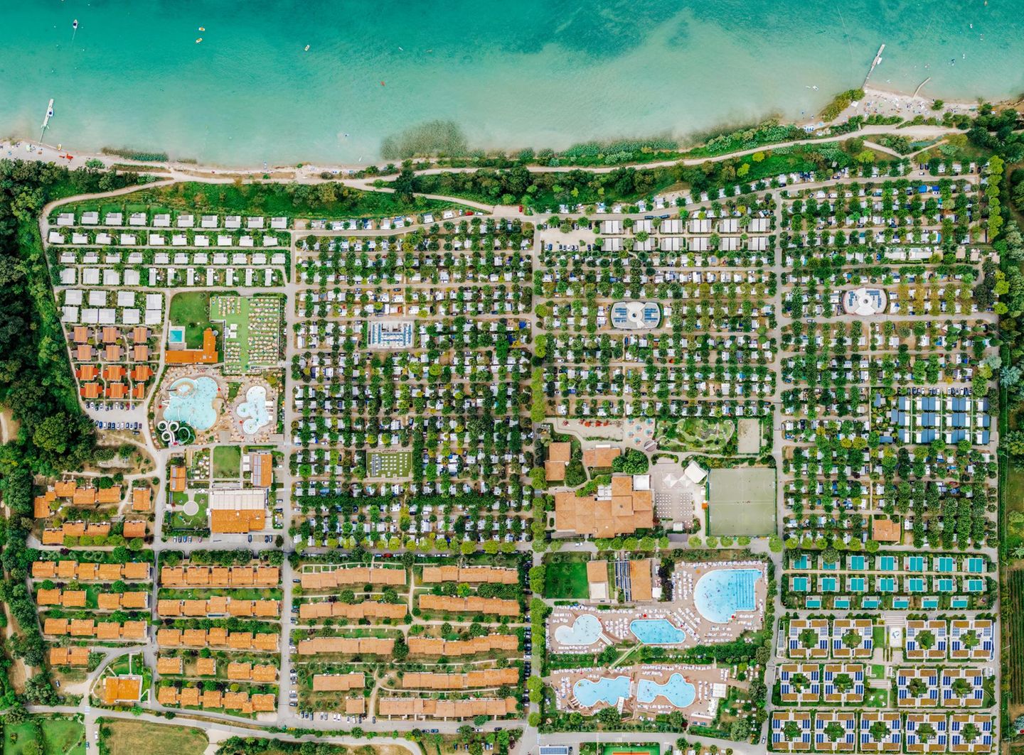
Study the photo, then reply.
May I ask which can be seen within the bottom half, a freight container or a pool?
pool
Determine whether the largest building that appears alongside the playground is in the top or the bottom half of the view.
bottom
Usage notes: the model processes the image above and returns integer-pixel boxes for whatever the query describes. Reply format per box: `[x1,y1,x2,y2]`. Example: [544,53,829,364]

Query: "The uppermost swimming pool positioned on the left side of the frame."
[169,330,182,342]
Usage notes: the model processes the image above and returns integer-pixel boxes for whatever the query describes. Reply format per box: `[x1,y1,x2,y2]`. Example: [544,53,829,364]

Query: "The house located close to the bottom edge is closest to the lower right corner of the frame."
[948,712,992,753]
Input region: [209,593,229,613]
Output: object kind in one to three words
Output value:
house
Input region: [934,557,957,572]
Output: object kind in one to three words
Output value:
building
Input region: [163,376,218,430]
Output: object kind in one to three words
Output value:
swimming pool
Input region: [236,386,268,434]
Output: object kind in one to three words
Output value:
swimming pool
